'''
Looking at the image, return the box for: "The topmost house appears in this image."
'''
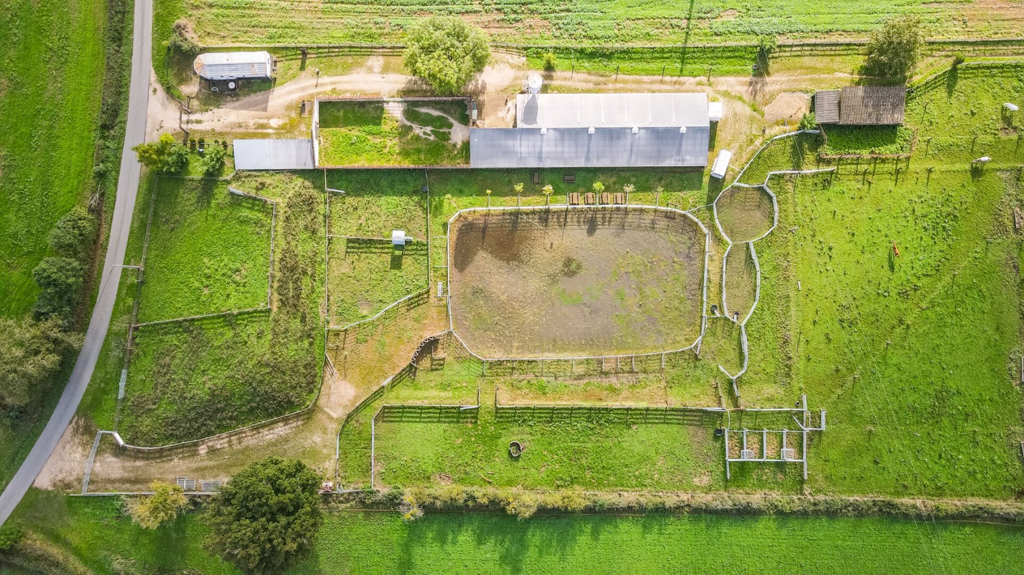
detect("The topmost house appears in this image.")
[194,51,271,80]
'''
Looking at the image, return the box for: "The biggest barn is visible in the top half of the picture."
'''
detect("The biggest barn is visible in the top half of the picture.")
[469,92,713,168]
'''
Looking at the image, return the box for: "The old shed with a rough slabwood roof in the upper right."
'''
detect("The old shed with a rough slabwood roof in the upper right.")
[835,85,906,128]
